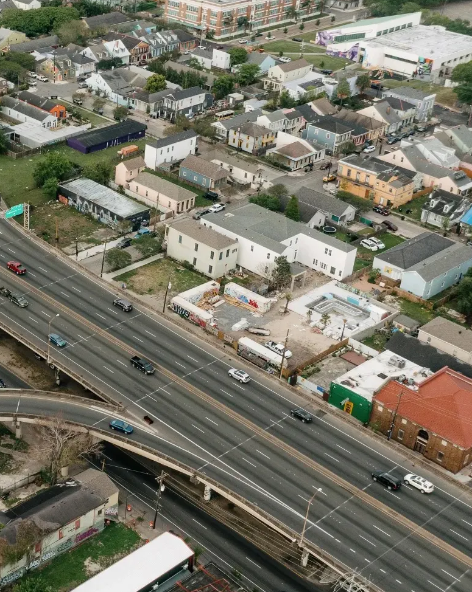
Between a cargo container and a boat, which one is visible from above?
cargo container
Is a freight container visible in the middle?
Yes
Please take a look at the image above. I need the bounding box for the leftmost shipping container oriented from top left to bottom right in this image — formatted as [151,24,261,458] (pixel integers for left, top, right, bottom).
[170,298,209,334]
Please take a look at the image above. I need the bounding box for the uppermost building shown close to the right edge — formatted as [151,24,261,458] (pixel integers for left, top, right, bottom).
[307,0,472,84]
